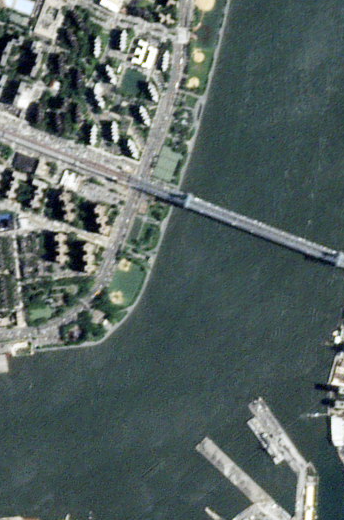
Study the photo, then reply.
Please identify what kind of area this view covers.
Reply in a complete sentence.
The area seen from above is a port.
